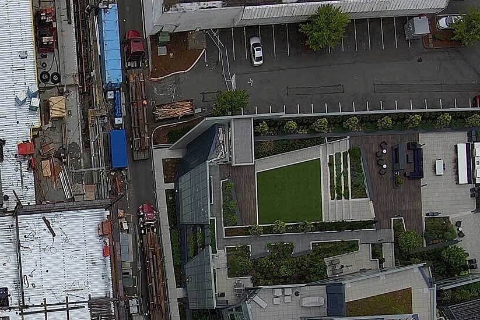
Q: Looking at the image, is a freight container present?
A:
Yes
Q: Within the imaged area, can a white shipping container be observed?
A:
No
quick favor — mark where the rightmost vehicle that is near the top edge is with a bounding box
[434,14,466,31]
